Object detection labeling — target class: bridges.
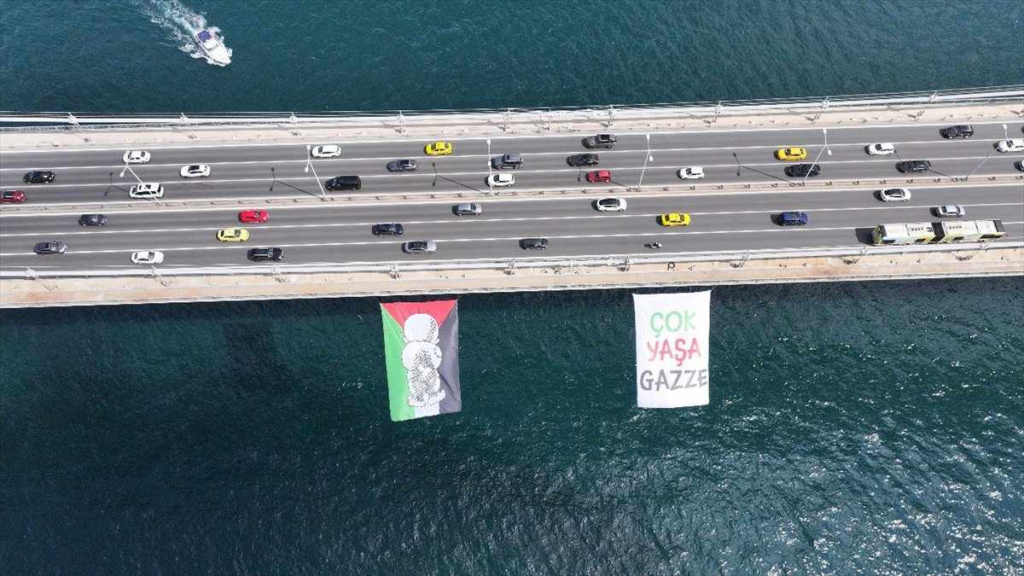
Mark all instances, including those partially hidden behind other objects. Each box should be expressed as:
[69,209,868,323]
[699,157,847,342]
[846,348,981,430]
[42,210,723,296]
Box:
[0,85,1024,309]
